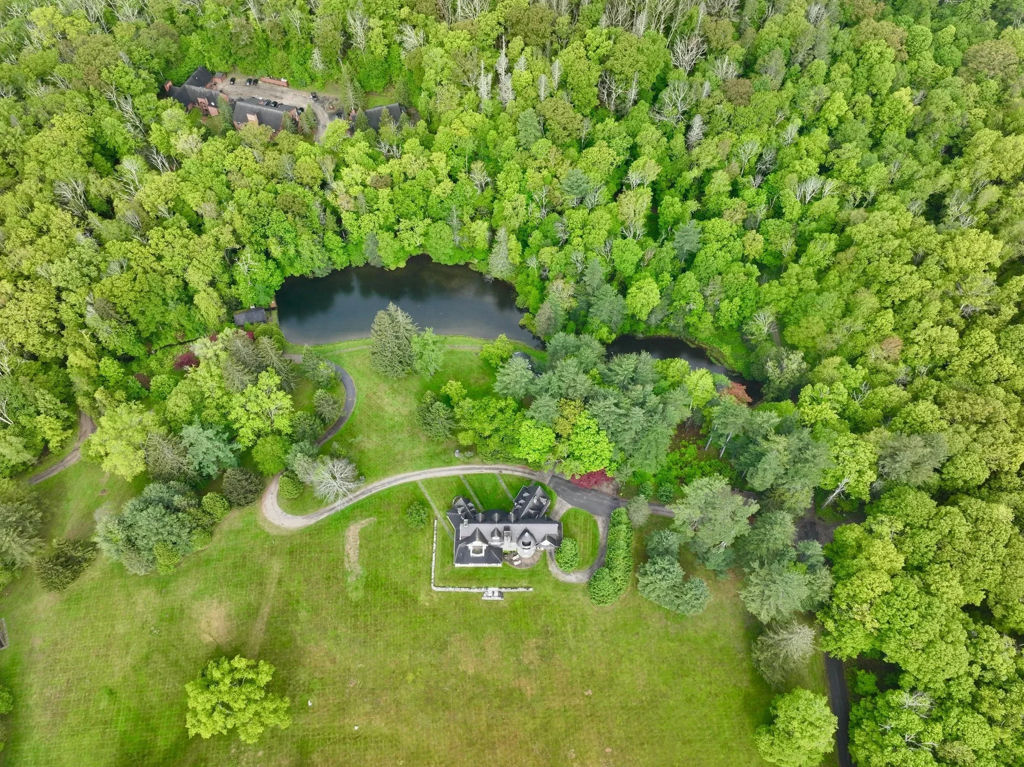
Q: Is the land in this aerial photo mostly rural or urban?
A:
rural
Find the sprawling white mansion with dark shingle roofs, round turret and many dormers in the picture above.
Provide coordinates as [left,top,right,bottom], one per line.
[446,485,564,569]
